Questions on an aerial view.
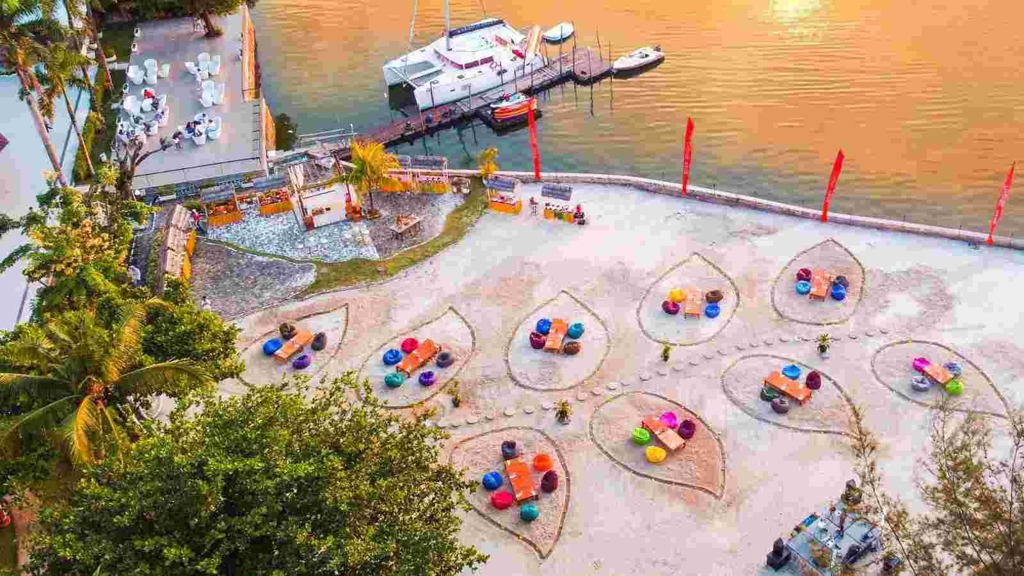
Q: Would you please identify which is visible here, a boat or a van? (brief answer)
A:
boat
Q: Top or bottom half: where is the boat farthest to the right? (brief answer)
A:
top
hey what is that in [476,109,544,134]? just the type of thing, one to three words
pier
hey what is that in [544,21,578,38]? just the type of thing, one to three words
boat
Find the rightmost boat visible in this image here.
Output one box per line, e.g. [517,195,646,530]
[614,46,669,72]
